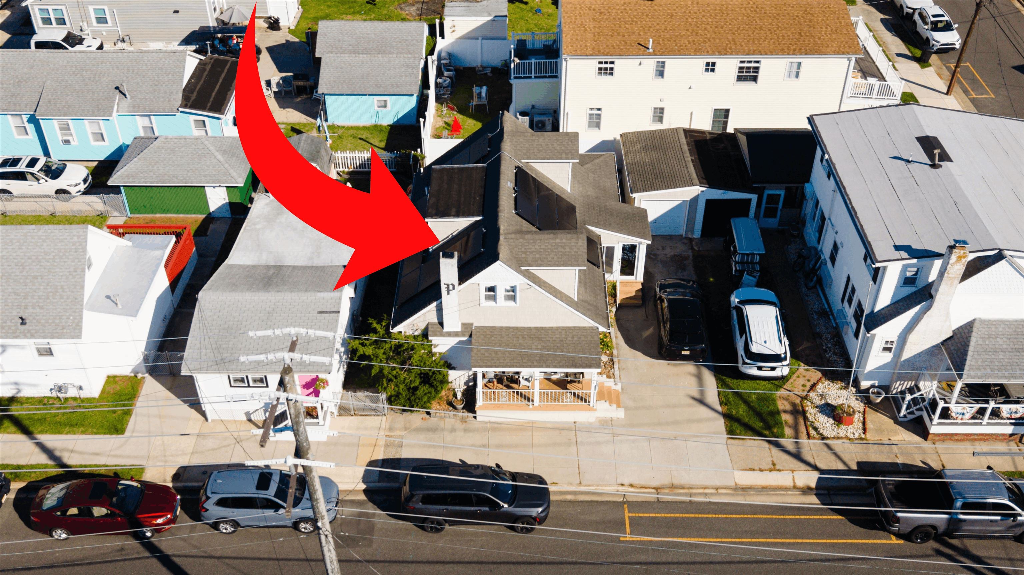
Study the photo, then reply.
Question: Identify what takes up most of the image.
buildings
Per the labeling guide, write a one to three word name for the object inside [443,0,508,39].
building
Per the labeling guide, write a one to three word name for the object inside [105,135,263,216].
shed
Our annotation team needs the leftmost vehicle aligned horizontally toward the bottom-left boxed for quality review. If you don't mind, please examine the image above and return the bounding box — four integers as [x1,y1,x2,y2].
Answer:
[31,474,185,540]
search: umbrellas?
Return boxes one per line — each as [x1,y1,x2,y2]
[217,5,257,24]
[324,105,334,145]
